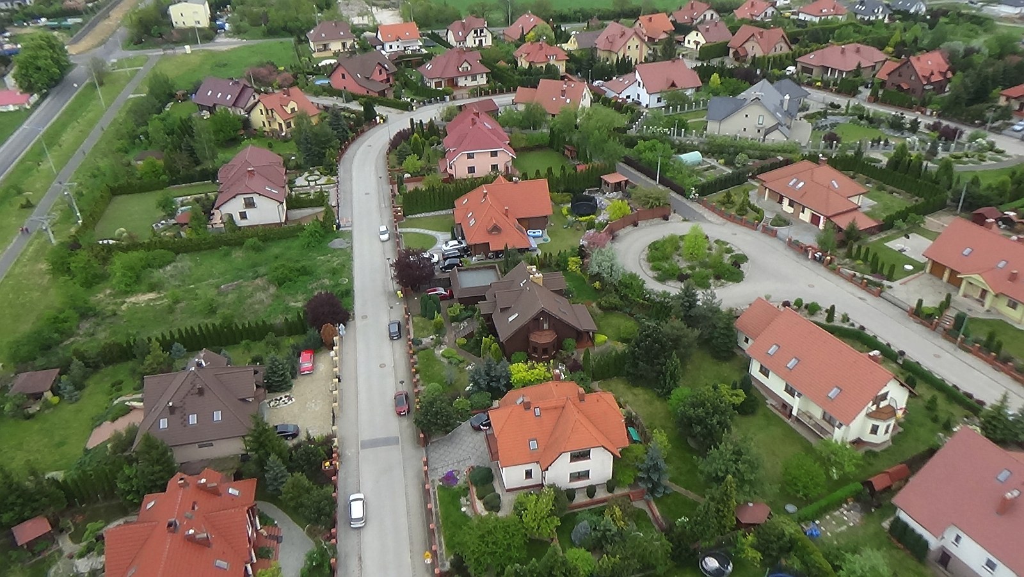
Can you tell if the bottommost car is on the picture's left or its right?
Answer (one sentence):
The bottommost car is on the left side of the image.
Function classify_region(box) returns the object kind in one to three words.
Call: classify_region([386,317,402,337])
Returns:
car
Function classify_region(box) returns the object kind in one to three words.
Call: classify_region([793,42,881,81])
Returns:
house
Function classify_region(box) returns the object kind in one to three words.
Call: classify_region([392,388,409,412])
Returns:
car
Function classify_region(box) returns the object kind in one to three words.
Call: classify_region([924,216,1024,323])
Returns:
house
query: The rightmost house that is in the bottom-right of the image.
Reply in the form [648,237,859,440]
[897,425,1024,577]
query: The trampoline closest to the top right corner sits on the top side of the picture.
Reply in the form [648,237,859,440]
[570,195,598,214]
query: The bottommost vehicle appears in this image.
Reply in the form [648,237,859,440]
[345,489,367,525]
